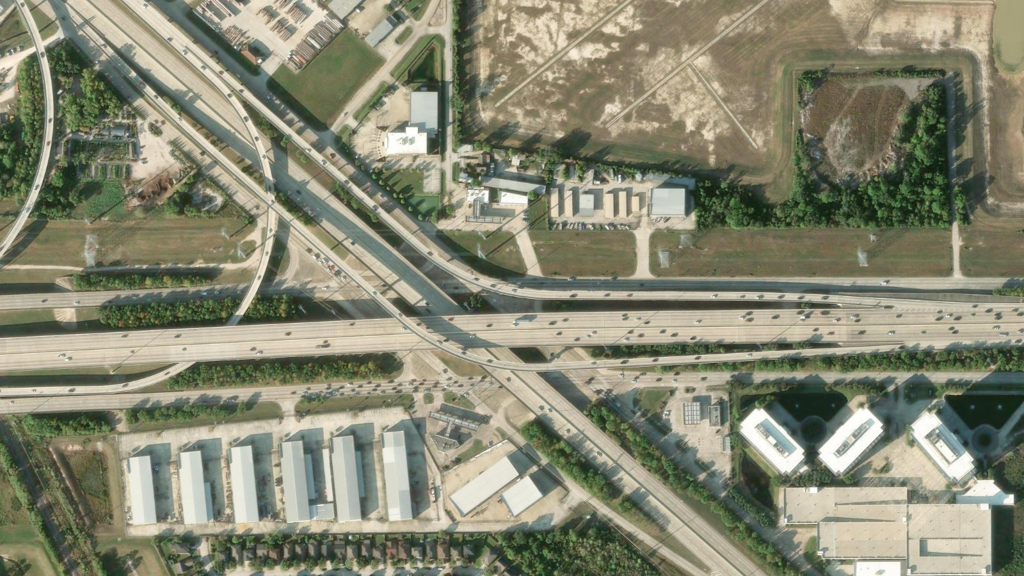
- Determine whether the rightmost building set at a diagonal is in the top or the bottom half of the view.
bottom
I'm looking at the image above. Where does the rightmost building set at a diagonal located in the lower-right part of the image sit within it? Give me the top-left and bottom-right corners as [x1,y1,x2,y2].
[912,413,974,486]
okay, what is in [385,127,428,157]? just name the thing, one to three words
building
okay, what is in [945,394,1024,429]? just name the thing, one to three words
pond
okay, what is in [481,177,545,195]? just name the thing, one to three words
shed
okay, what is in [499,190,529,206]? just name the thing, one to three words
building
